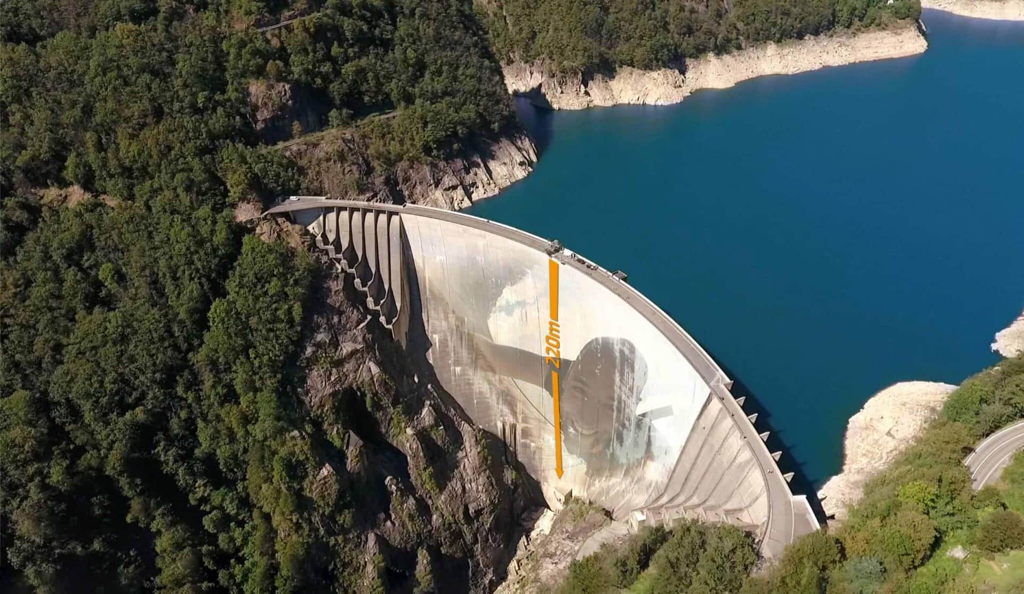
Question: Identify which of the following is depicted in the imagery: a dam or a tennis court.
dam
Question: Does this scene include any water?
Yes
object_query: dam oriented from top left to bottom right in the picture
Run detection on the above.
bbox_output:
[270,198,806,552]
